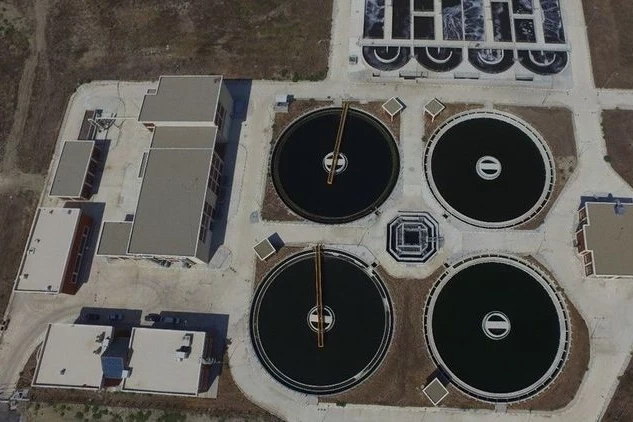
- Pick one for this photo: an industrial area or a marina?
industrial area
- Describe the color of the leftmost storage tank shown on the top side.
black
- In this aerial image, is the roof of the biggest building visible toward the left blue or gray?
gray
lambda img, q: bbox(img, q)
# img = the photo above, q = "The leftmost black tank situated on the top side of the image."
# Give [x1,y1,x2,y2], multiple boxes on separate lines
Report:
[270,99,399,226]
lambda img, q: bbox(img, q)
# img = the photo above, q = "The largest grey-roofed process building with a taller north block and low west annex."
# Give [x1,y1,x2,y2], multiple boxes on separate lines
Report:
[97,76,234,267]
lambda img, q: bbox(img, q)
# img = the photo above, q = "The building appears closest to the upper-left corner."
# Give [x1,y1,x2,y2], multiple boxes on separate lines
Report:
[49,141,98,201]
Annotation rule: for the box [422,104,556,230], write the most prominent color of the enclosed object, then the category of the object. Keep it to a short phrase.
black storage tank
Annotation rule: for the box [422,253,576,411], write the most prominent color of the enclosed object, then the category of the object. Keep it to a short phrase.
black storage tank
